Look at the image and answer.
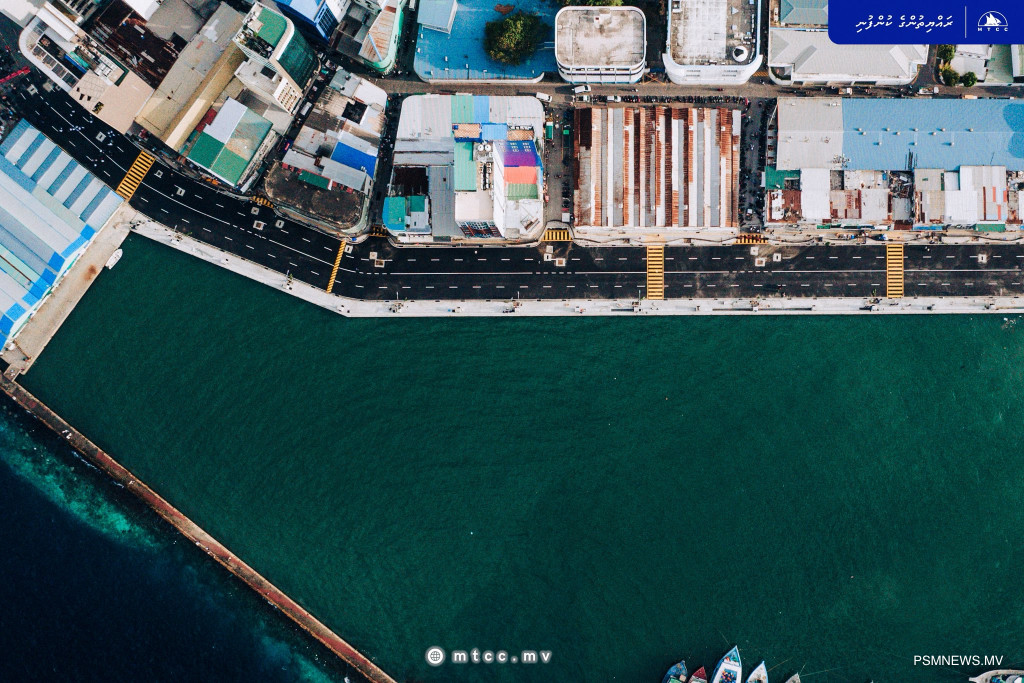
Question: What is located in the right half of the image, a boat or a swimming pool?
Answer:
boat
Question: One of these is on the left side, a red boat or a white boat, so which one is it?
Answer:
white boat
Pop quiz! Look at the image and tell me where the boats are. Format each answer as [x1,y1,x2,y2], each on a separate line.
[781,671,798,683]
[687,665,705,683]
[970,668,1024,683]
[658,660,685,683]
[741,660,765,683]
[106,249,122,270]
[711,644,742,683]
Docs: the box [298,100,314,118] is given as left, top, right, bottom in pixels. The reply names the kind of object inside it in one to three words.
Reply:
vehicle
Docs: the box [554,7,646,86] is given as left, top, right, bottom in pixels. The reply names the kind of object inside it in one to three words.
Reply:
building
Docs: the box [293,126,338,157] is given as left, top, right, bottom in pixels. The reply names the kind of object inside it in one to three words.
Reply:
house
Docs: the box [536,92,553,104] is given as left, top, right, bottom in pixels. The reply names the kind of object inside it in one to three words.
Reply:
vehicle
